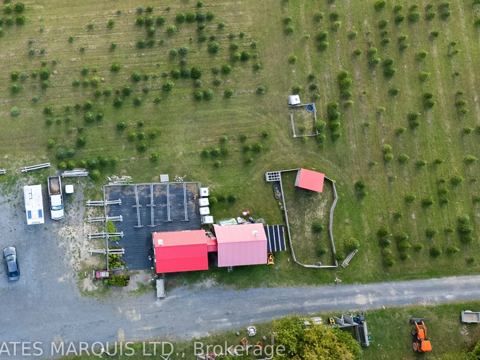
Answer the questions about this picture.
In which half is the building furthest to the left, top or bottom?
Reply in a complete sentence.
The building furthest to the left is in the bottom half of the image.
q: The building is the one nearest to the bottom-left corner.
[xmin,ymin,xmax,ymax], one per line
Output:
[154,229,208,273]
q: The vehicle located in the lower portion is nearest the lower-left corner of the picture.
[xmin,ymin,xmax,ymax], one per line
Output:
[3,246,21,280]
